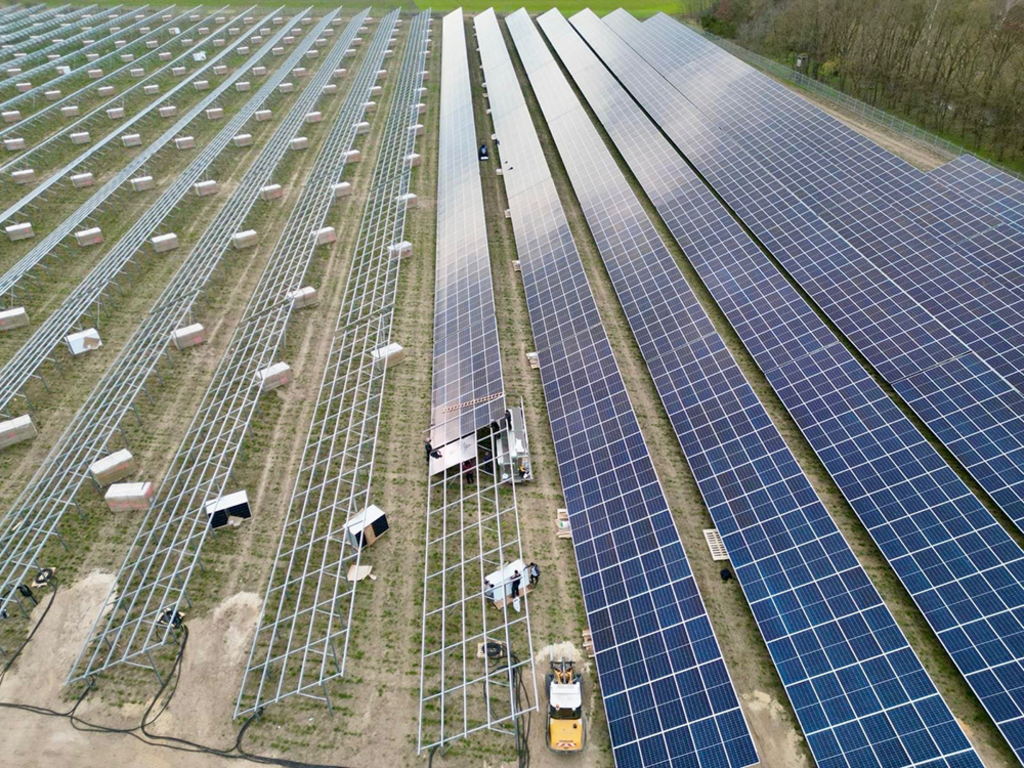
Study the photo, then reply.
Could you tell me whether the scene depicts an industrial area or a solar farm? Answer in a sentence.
It's a solar farm.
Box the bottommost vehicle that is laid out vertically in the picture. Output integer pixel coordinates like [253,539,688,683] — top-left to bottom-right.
[544,646,587,762]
